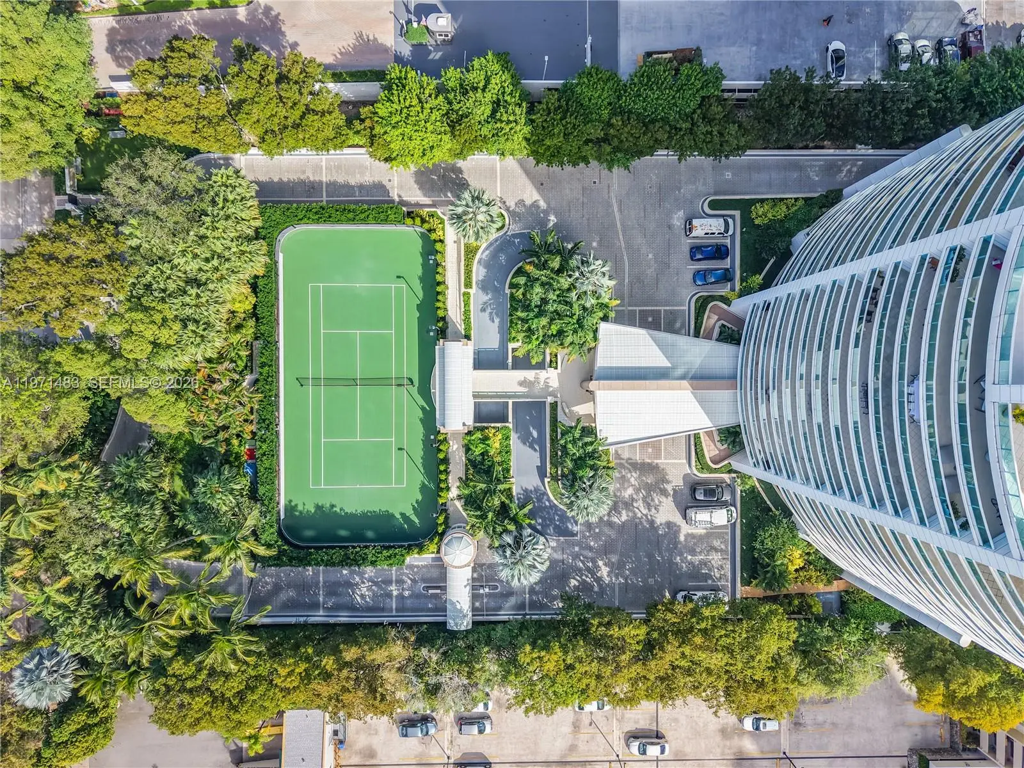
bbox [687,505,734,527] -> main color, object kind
white vehicle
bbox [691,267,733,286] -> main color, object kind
blue car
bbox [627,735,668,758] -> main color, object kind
white car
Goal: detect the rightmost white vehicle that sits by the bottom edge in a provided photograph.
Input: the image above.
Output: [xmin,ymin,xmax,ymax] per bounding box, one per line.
[739,712,781,735]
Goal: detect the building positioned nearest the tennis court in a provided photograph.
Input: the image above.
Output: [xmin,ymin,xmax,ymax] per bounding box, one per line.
[431,337,474,439]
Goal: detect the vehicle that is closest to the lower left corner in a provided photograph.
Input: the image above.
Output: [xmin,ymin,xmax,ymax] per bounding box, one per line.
[398,718,439,739]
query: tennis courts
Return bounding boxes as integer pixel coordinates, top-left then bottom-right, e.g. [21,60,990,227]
[276,223,439,550]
